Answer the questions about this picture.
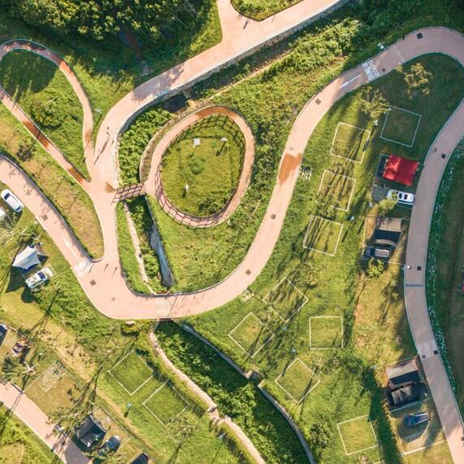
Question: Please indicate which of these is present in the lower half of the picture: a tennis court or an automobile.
automobile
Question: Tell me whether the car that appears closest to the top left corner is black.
No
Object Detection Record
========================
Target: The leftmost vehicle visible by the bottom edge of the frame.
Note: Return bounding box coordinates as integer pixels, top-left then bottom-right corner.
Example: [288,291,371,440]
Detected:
[99,431,124,456]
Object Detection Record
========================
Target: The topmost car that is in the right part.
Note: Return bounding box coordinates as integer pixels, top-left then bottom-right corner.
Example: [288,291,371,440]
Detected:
[387,189,414,204]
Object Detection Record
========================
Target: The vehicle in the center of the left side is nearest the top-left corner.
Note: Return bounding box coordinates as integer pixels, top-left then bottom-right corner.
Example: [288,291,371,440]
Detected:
[2,188,26,215]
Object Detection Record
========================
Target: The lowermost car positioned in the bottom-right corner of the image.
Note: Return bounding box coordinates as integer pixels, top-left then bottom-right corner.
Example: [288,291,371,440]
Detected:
[402,411,431,427]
